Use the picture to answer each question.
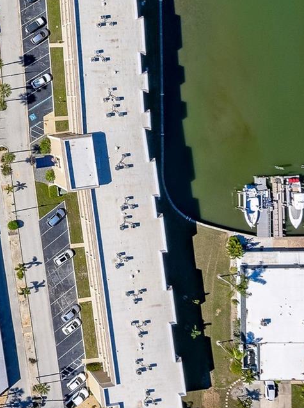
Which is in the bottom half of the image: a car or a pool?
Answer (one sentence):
Looking in the bottom half of the image, you will find a car.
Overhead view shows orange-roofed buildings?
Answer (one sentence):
No, the picture doesn't show any orange-roofed building.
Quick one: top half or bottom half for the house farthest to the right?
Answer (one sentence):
The bottom half of the photo is where the house farthest to the right is.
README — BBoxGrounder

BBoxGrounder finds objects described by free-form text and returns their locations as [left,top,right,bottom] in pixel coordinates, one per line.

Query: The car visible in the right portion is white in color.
[263,380,276,402]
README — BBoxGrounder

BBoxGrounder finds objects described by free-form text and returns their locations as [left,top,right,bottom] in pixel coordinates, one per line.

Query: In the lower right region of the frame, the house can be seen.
[233,249,304,380]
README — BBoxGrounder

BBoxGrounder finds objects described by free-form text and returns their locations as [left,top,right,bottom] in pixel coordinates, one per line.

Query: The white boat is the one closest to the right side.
[287,176,304,227]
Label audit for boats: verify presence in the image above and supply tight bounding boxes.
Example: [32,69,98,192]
[245,185,261,228]
[287,176,304,227]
